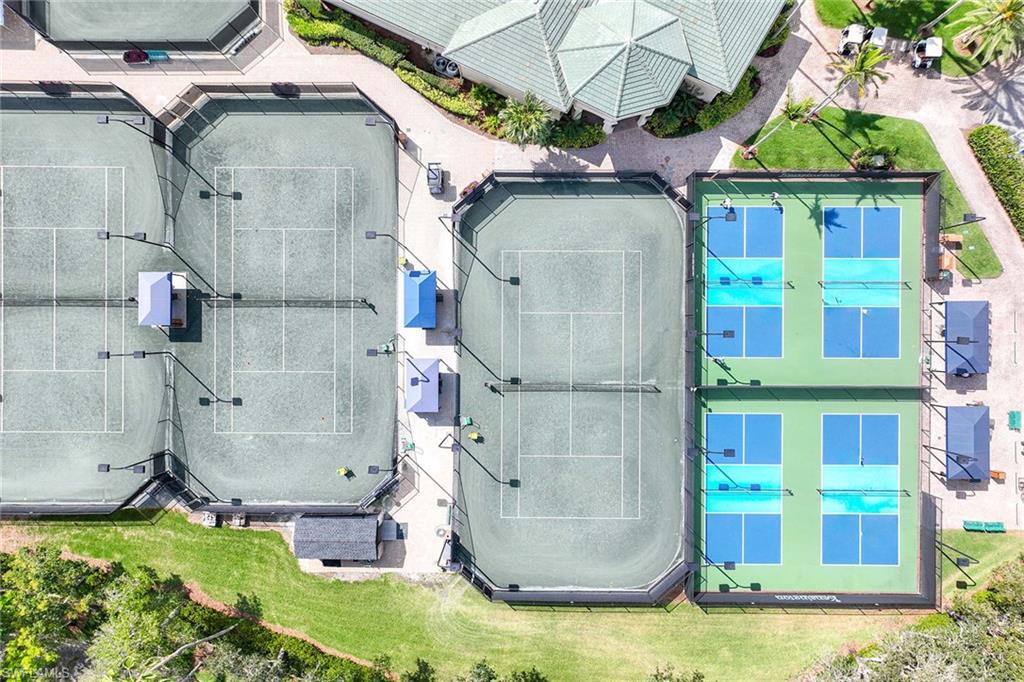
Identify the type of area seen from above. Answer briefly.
sports ground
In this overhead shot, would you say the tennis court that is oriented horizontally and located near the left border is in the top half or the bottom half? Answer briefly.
top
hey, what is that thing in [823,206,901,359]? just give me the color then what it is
blue sports court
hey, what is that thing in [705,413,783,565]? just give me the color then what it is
blue sports court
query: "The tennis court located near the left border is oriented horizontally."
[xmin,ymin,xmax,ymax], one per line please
[26,0,264,57]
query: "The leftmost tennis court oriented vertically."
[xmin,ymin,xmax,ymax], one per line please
[0,92,173,506]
